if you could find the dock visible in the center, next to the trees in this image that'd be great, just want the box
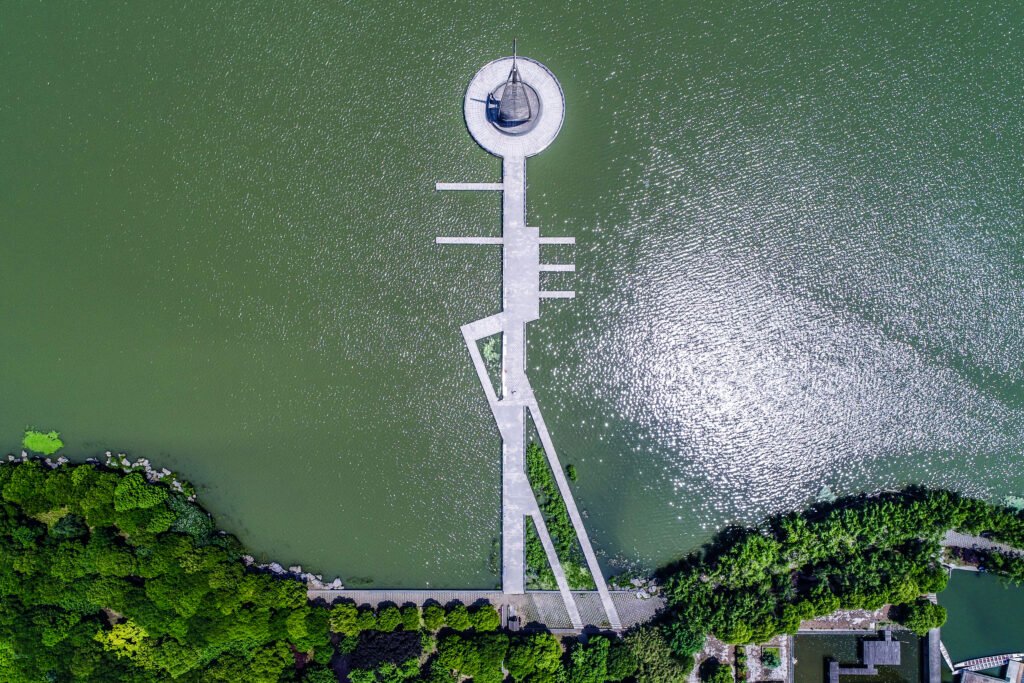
[436,157,621,628]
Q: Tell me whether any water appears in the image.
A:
Yes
